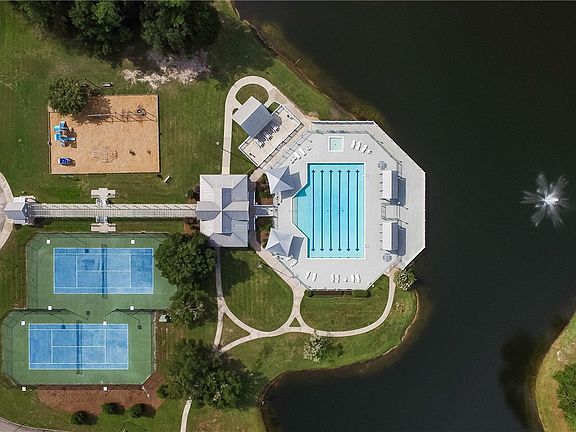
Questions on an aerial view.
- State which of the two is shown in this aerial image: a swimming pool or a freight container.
swimming pool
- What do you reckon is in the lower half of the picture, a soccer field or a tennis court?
tennis court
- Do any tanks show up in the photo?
No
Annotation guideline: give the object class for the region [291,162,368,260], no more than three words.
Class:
swimming pool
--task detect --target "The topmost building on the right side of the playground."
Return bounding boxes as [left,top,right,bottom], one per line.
[233,96,273,137]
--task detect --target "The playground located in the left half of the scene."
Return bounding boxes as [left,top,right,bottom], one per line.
[49,94,159,174]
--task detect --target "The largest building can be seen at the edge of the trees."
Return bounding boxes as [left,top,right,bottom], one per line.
[195,175,250,248]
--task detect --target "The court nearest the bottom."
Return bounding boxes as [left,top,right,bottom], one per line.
[2,309,154,384]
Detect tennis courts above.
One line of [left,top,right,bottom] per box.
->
[2,309,154,384]
[26,233,178,309]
